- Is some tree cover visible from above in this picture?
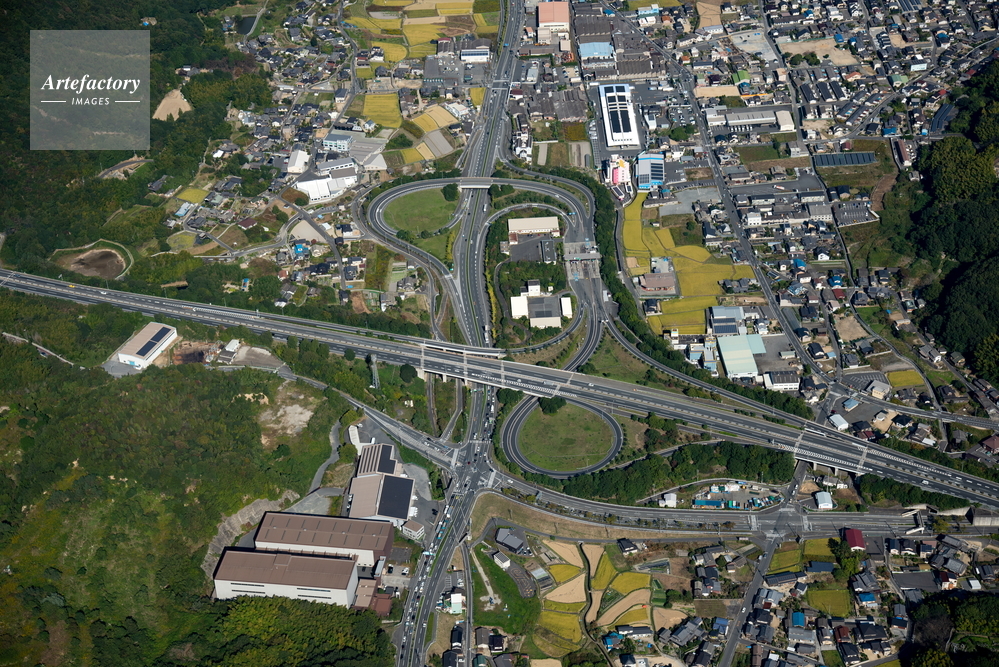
Yes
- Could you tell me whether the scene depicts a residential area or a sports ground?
residential area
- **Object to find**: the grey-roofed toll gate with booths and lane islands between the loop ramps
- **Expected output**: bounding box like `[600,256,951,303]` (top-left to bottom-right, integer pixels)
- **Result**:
[564,251,600,276]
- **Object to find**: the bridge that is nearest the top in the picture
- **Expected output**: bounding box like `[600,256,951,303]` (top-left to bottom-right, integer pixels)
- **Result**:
[452,178,511,191]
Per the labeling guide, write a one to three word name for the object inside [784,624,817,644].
house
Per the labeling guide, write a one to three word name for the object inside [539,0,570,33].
building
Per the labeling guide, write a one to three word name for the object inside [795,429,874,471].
bridge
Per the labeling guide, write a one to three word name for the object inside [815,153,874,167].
solar array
